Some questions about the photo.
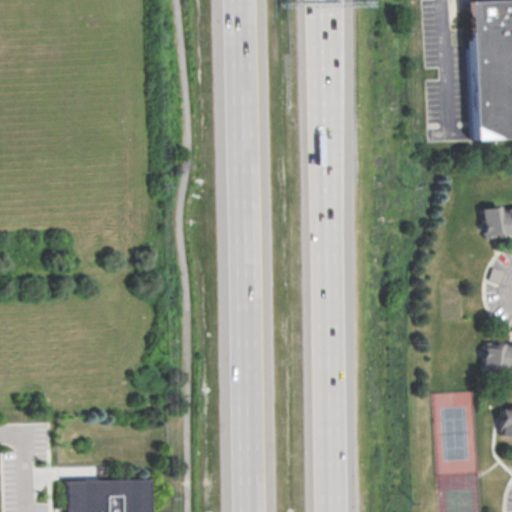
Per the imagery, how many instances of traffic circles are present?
0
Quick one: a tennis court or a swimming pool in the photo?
tennis court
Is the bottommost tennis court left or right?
right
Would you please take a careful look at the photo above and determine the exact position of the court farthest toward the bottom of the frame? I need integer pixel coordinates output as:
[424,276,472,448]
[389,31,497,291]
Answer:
[436,474,482,512]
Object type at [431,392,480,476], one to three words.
tennis court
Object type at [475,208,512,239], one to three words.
house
